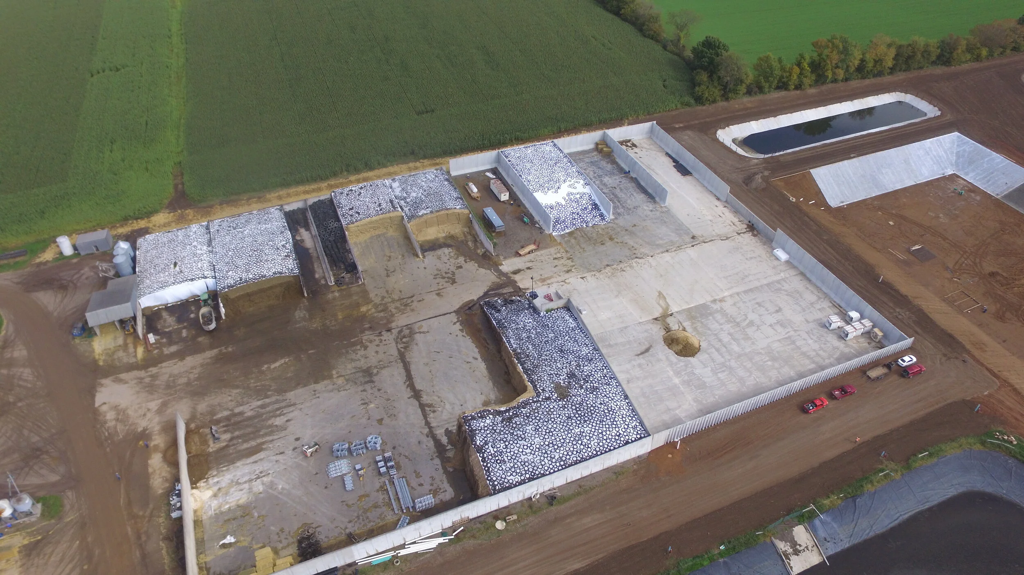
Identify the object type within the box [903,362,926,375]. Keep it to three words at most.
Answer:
vehicle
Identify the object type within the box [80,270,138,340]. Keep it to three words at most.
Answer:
shed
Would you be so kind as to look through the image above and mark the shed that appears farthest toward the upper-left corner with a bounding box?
[75,227,110,255]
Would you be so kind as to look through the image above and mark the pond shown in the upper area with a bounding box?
[717,91,945,158]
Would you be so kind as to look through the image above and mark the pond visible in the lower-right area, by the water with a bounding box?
[681,446,1024,575]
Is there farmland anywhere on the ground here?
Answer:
Yes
